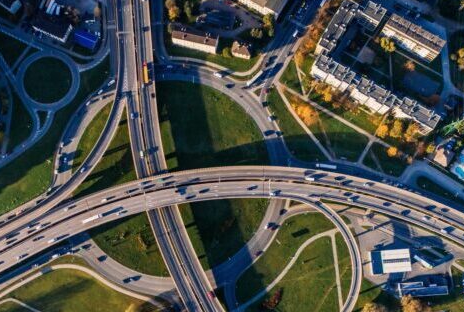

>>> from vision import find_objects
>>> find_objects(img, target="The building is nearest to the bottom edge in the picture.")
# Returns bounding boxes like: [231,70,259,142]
[396,281,448,297]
